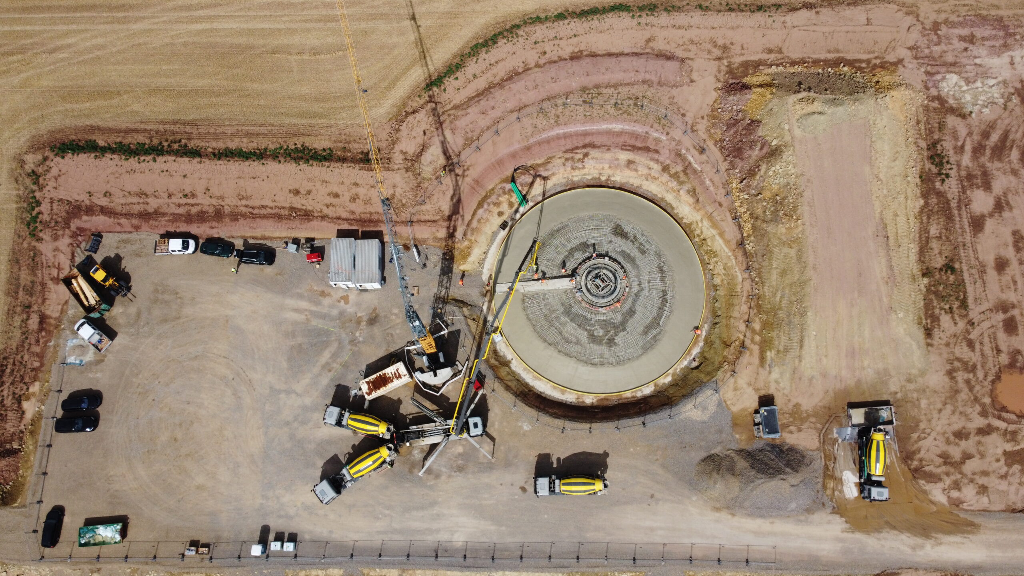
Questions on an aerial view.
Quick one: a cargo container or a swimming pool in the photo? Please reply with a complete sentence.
This aerial view contains a cargo container.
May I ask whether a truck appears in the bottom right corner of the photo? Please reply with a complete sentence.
Yes, looking in the bottom right corner of the photo, one can make out a truck.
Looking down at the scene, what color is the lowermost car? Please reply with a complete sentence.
The lowermost car looks black in the image.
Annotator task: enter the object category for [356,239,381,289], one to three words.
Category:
shipping container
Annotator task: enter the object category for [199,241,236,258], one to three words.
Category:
car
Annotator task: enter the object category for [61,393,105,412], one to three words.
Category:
car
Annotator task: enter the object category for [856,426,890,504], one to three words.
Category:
truck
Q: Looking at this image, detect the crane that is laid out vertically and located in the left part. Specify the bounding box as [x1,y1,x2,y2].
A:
[334,0,456,384]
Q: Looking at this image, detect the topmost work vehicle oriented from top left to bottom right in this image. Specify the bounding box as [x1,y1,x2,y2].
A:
[86,265,137,301]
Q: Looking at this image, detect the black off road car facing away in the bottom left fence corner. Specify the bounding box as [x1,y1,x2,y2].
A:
[38,506,67,548]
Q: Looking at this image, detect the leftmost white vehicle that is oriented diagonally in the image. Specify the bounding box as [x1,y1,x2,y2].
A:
[75,319,113,353]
